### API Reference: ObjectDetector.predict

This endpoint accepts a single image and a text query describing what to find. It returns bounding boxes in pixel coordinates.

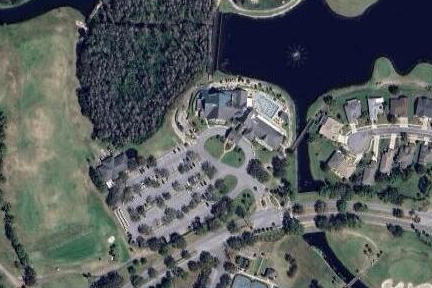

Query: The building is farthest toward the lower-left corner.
[100,157,132,186]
